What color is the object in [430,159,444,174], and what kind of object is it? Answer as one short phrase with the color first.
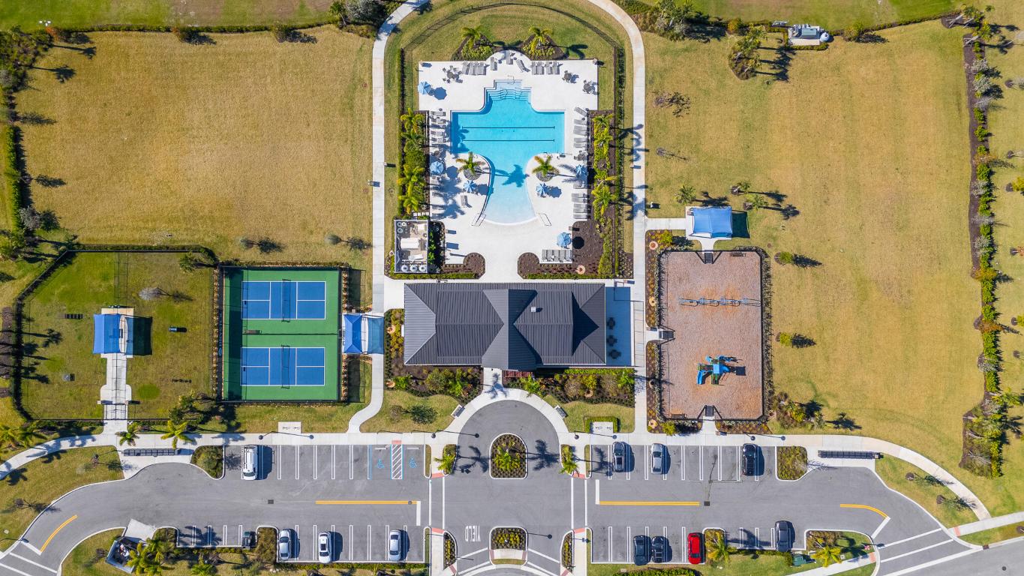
blue umbrella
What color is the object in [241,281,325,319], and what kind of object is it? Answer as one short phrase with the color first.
blue sports court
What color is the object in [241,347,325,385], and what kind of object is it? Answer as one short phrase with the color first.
blue sports court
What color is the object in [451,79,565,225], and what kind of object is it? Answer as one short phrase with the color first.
blue swimming pool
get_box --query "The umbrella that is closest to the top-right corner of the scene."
[574,163,588,177]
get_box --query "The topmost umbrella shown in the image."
[418,81,431,95]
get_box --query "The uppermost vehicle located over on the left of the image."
[242,444,260,480]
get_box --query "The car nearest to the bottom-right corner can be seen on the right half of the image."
[775,519,790,552]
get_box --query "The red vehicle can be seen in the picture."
[687,531,703,563]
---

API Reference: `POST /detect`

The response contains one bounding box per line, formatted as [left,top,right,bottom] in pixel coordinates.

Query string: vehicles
[633,533,647,564]
[687,531,703,563]
[650,442,664,474]
[775,519,790,552]
[388,529,402,561]
[242,444,260,480]
[741,442,757,475]
[612,440,626,472]
[651,534,666,563]
[278,528,293,561]
[237,530,250,549]
[318,531,333,563]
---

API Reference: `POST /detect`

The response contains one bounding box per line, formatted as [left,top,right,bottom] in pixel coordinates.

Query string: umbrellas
[430,159,444,174]
[418,81,431,95]
[558,232,571,246]
[534,182,549,196]
[574,163,588,177]
[462,178,476,192]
